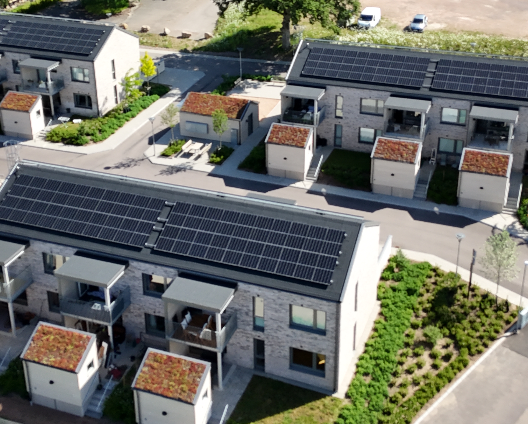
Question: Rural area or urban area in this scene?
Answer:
urban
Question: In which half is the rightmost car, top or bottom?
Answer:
top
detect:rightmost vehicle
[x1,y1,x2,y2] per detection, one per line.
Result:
[409,10,429,29]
